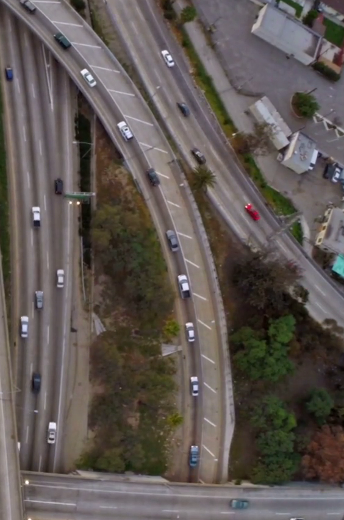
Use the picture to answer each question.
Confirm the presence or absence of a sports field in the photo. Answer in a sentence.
No, there is no sports field in the image.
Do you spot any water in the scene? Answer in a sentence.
No, water can't be seen anywhere here.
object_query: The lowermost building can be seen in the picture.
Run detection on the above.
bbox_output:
[312,208,344,256]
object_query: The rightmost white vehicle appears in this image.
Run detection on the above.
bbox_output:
[330,166,343,183]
